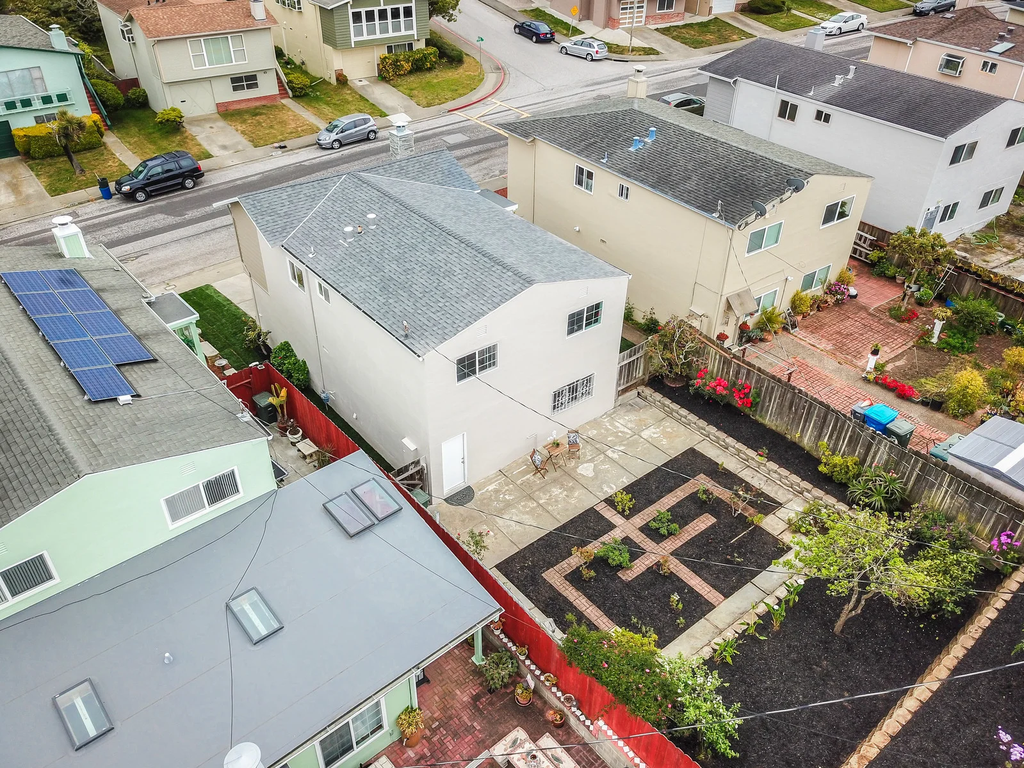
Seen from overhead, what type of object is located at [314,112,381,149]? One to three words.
car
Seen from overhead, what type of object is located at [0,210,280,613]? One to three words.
house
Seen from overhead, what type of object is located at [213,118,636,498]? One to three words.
house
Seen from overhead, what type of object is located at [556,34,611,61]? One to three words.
car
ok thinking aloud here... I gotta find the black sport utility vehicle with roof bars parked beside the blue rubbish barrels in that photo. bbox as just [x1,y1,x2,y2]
[109,147,208,201]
